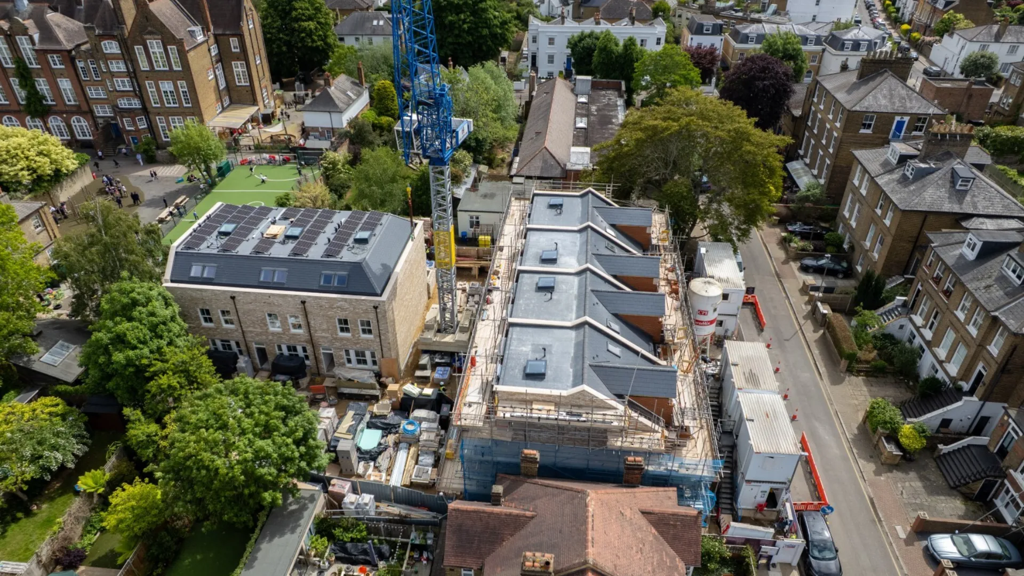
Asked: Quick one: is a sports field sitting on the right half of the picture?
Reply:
No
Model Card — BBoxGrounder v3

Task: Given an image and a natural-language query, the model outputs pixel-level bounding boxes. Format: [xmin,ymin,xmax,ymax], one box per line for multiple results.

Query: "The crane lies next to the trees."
[389,0,495,356]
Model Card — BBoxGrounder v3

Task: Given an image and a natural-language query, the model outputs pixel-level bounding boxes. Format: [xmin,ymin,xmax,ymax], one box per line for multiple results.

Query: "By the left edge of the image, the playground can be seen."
[12,78,306,276]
